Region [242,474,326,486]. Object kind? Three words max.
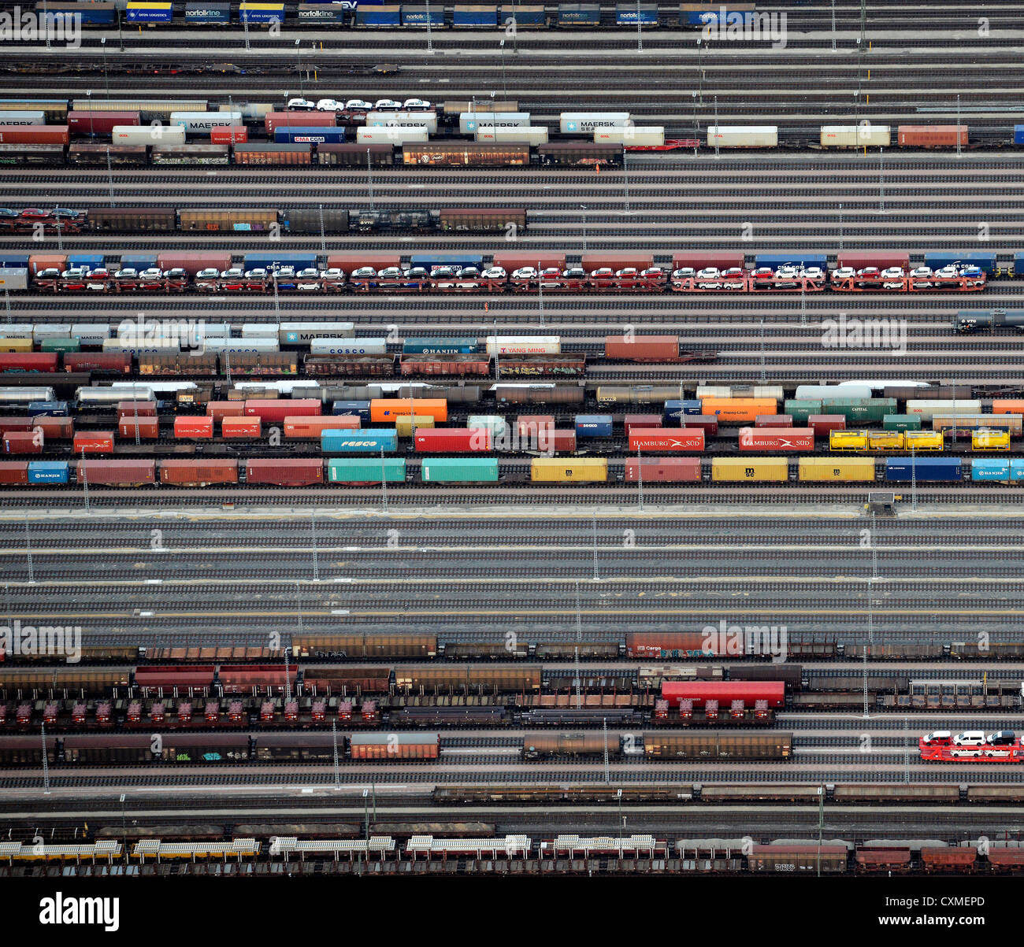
rail car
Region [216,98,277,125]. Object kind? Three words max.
rail car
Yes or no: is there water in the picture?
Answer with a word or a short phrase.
No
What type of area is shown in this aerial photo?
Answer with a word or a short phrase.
rail yard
